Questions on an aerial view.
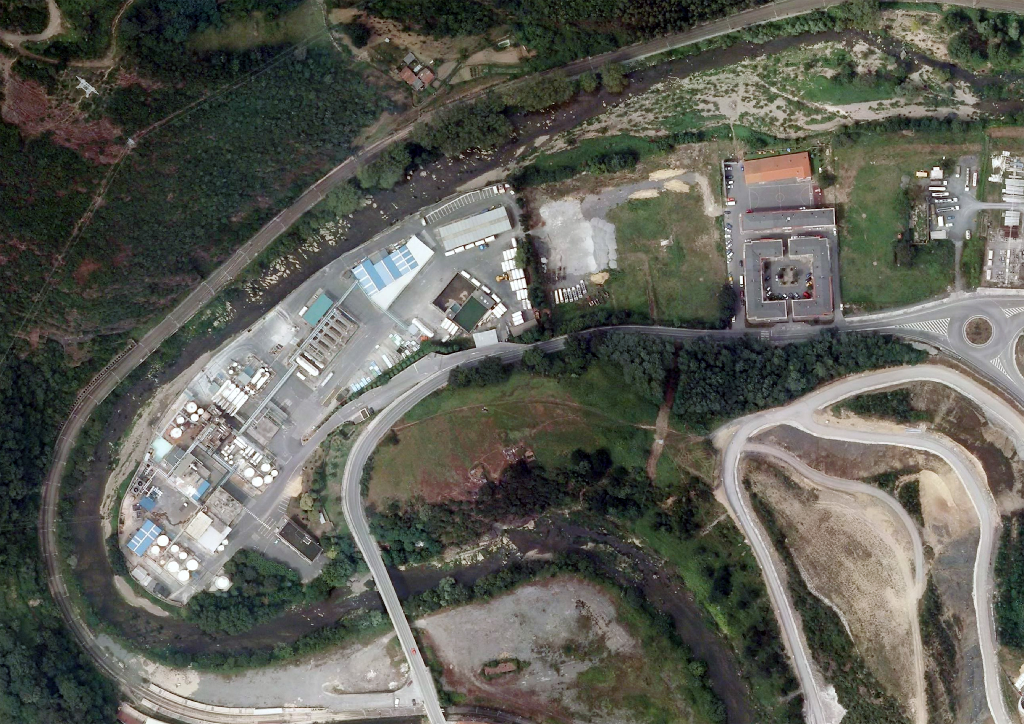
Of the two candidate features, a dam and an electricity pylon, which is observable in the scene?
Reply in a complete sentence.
I can see an electricity pylon in this picture.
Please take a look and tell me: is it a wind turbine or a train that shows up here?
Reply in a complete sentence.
It is a train that can be seen here.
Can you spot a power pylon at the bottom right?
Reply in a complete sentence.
No, there's no power pylon to be seen at the bottom right.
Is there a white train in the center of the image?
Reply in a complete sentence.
No, looking in the center of the image, there is no white train.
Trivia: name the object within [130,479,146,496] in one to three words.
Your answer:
cooling tower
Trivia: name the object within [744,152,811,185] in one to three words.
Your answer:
building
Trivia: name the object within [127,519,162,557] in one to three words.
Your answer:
building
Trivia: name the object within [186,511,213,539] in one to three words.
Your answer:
shed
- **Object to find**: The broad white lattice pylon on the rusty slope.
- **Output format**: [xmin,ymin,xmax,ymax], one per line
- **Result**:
[69,75,94,100]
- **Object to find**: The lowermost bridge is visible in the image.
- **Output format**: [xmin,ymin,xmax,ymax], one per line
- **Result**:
[355,525,449,724]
